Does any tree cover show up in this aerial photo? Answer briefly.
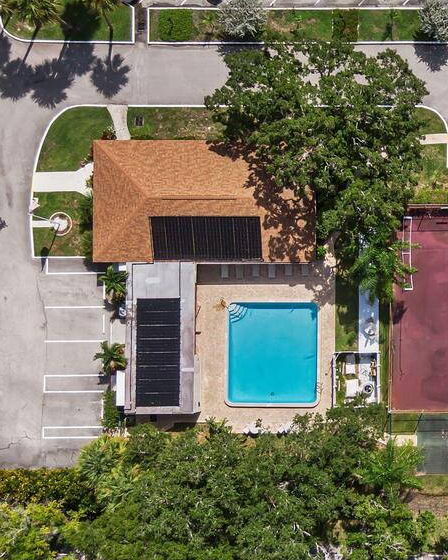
Yes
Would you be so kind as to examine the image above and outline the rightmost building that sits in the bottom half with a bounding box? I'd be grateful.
[126,264,201,414]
